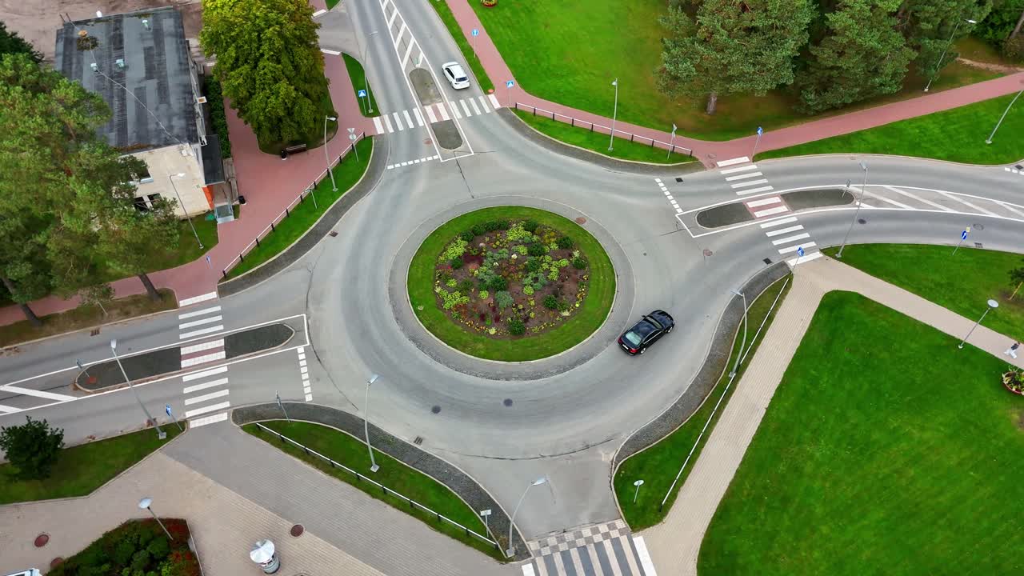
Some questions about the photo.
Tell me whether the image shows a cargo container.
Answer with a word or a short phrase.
No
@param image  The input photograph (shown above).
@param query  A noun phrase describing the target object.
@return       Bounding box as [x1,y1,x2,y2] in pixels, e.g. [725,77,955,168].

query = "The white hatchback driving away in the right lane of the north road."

[443,61,470,89]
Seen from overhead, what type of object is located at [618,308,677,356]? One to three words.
car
